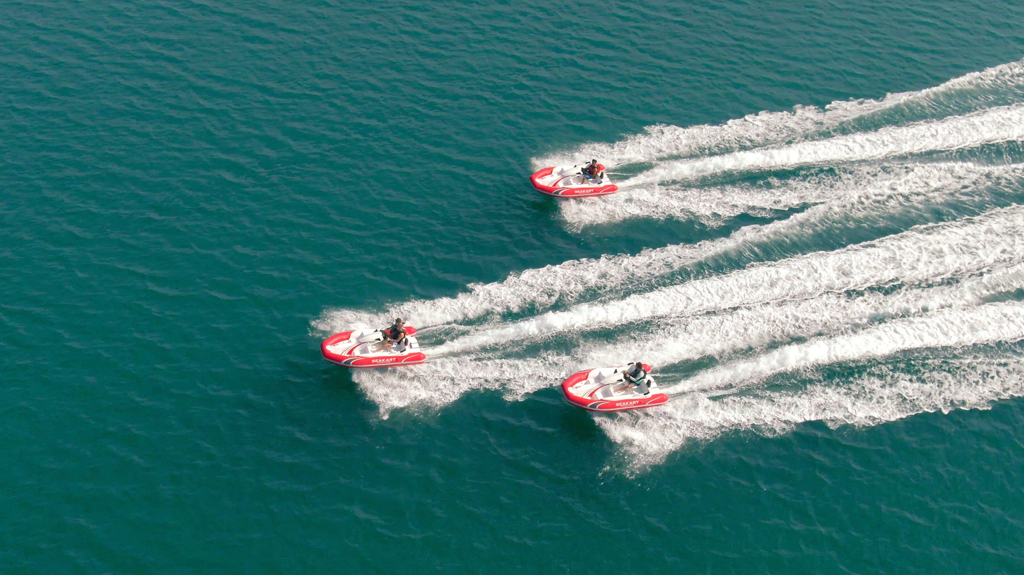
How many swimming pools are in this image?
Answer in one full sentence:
No swimming pools are visible.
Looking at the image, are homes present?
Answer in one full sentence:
No, there is no home in the image.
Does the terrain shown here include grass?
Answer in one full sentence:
No, the picture contains no grass.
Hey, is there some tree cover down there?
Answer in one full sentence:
No, tree cover can't be seen anywhere here.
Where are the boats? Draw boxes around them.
[321,326,427,369]
[530,162,618,197]
[560,362,669,410]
